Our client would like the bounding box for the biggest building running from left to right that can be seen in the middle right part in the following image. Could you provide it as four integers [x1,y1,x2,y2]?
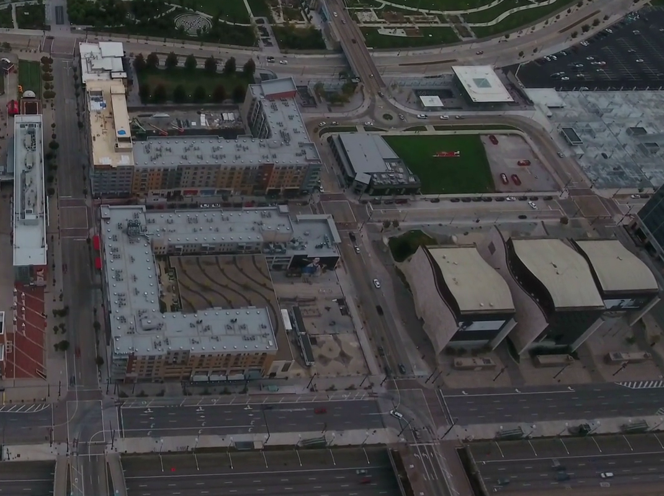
[406,225,658,352]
